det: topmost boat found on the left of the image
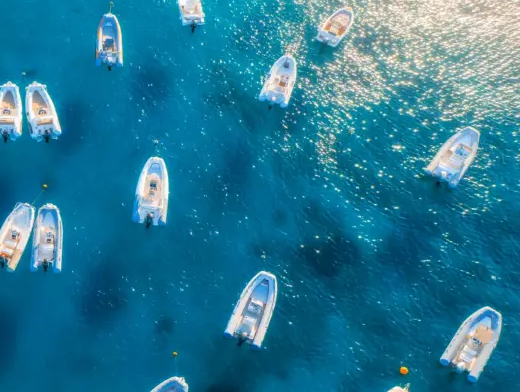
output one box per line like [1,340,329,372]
[177,0,205,31]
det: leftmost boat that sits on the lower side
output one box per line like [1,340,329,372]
[0,201,34,274]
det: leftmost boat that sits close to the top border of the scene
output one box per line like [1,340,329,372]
[95,14,123,72]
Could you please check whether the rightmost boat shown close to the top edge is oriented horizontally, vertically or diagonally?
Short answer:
diagonally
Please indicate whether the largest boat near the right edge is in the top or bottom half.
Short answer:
bottom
